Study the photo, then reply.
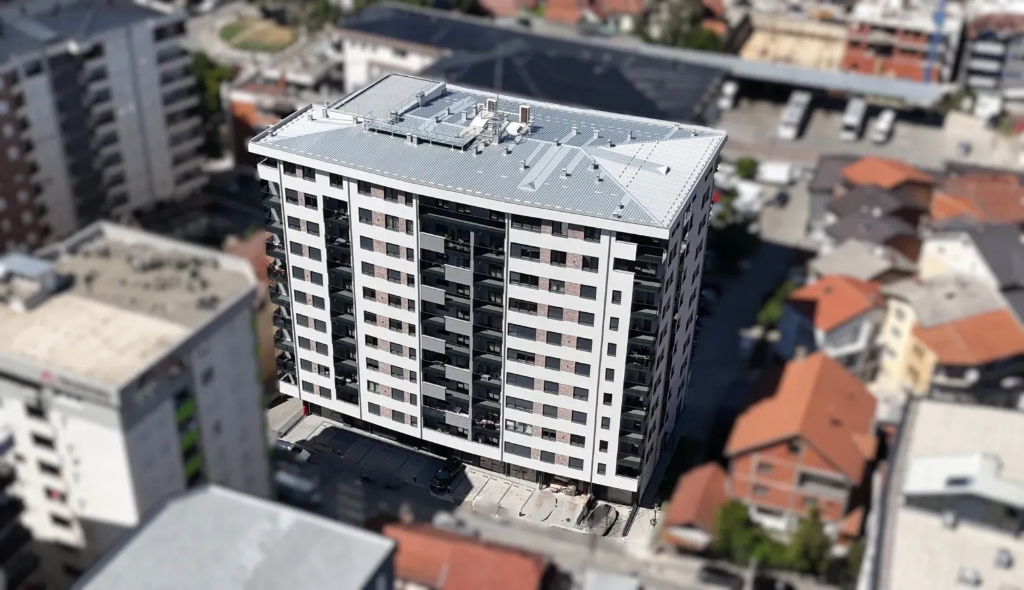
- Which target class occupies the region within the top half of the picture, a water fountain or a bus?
bus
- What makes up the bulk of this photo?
buildings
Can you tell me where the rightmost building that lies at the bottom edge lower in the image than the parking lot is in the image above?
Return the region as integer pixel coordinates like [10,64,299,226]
[871,396,1024,590]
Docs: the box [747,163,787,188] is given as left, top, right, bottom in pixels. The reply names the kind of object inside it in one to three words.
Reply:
vehicle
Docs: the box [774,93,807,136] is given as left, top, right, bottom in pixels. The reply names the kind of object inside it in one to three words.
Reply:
bus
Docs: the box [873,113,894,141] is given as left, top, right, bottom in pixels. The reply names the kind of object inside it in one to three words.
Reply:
vehicle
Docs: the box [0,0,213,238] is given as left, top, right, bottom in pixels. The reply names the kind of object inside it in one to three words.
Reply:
building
